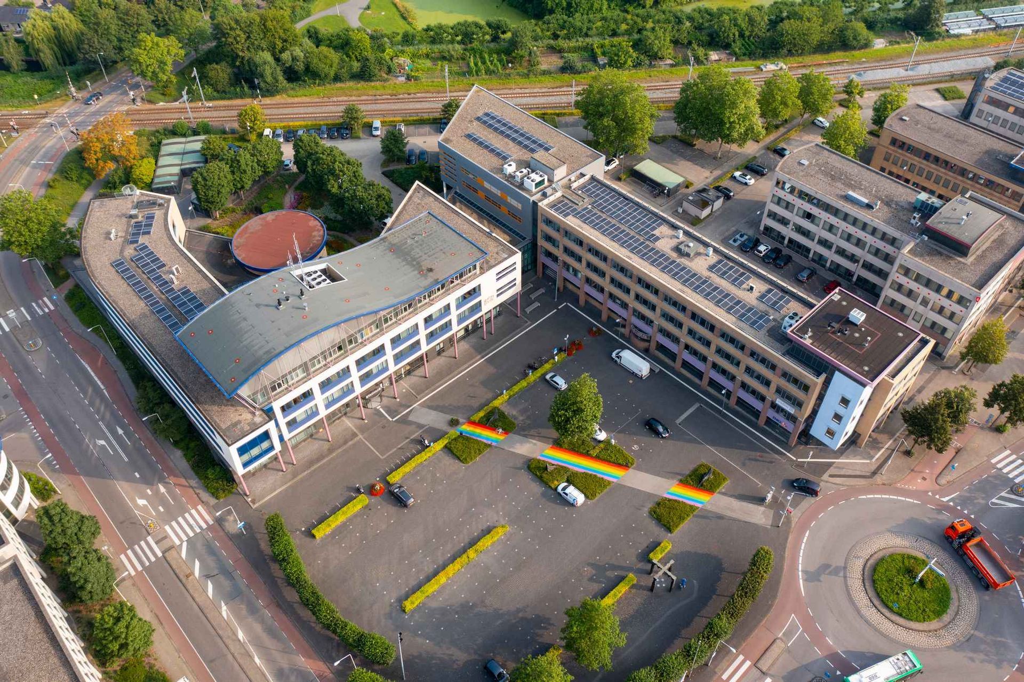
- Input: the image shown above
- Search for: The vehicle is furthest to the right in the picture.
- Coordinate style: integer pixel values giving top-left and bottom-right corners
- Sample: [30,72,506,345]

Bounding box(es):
[944,519,1015,585]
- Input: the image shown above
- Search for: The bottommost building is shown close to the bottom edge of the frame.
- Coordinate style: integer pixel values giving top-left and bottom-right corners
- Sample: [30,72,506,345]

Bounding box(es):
[0,506,103,682]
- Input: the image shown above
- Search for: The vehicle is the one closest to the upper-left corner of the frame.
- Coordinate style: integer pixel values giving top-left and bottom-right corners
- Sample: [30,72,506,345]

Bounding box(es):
[83,91,102,103]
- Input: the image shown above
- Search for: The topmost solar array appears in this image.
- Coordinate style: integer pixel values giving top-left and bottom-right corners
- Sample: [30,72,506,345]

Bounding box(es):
[991,70,1024,101]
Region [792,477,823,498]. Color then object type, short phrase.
black car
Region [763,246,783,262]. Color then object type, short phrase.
black car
